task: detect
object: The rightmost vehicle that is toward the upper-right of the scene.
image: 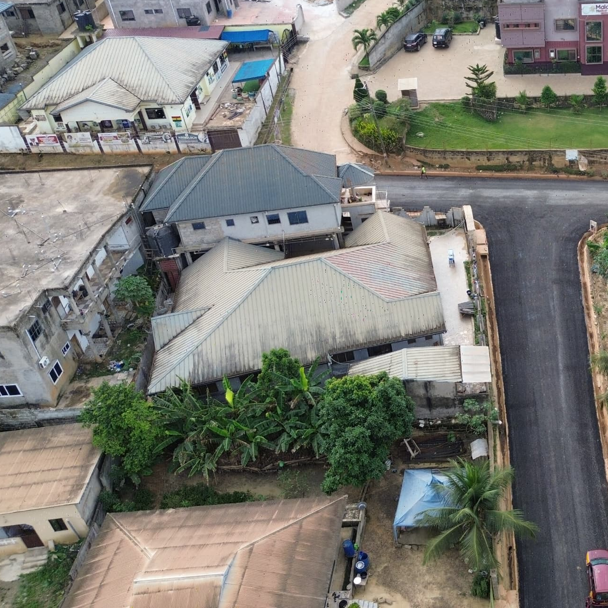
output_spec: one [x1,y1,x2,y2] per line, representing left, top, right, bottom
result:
[429,32,456,55]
